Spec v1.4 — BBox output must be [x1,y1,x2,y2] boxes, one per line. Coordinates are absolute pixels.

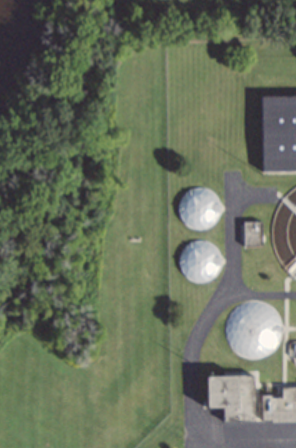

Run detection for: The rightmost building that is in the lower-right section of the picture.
[263,388,296,423]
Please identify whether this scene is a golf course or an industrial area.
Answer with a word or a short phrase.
industrial area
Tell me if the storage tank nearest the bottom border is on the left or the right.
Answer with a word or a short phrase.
right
